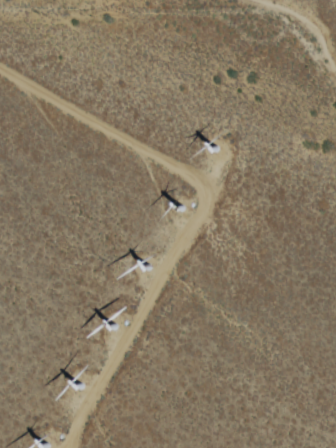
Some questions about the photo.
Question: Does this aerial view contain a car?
No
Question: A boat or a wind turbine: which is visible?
wind turbine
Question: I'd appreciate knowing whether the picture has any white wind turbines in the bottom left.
Yes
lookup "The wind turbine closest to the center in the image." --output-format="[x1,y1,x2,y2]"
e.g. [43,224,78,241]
[156,191,188,222]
